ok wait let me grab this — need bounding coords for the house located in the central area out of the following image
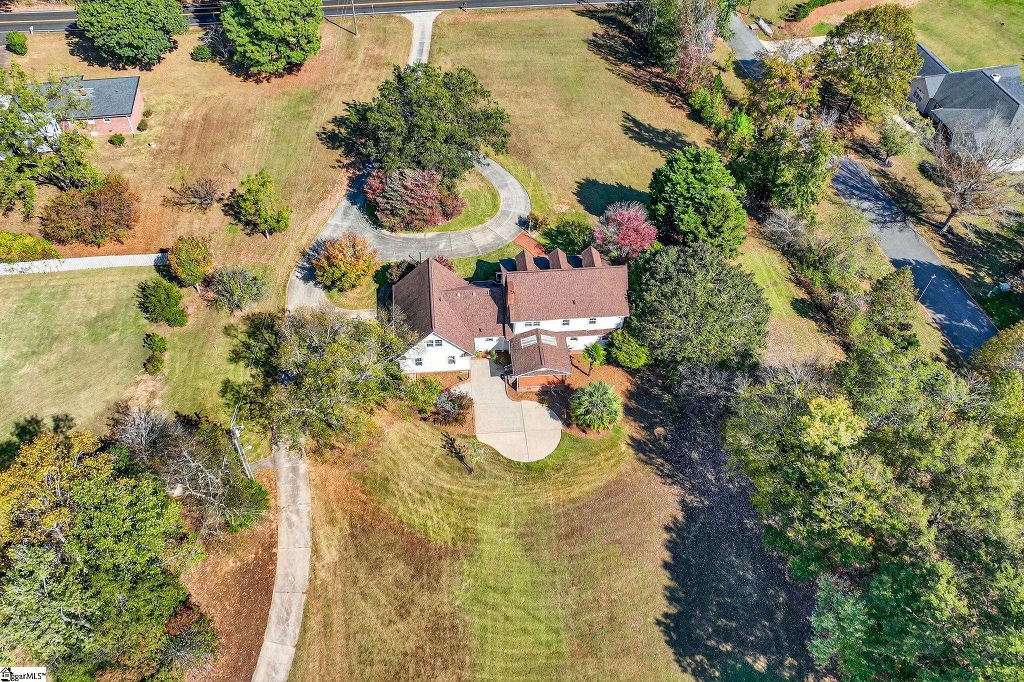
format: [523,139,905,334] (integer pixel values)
[385,245,630,393]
